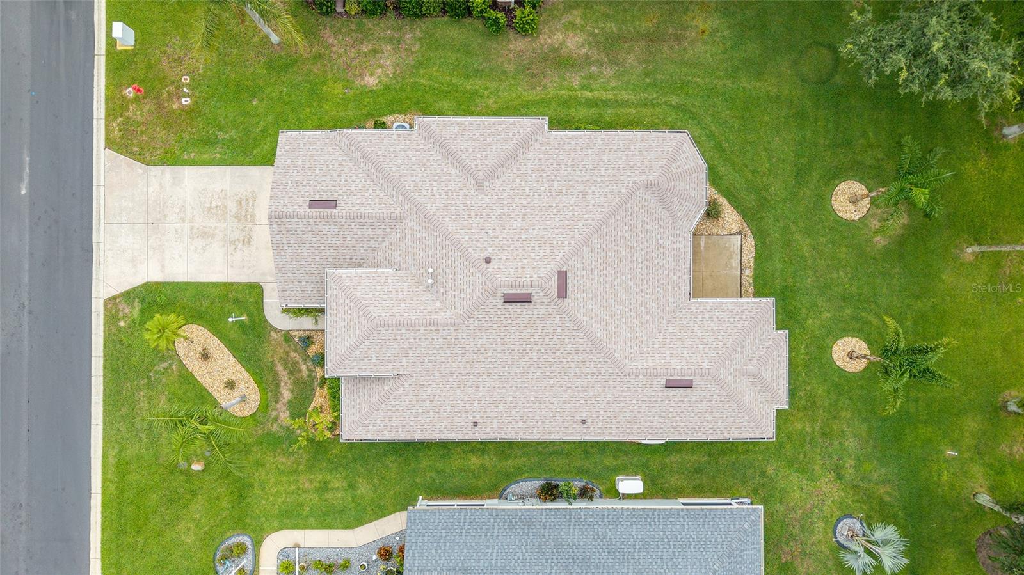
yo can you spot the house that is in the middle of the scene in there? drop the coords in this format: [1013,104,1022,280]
[268,115,788,441]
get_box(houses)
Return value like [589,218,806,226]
[268,115,788,441]
[404,491,763,575]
